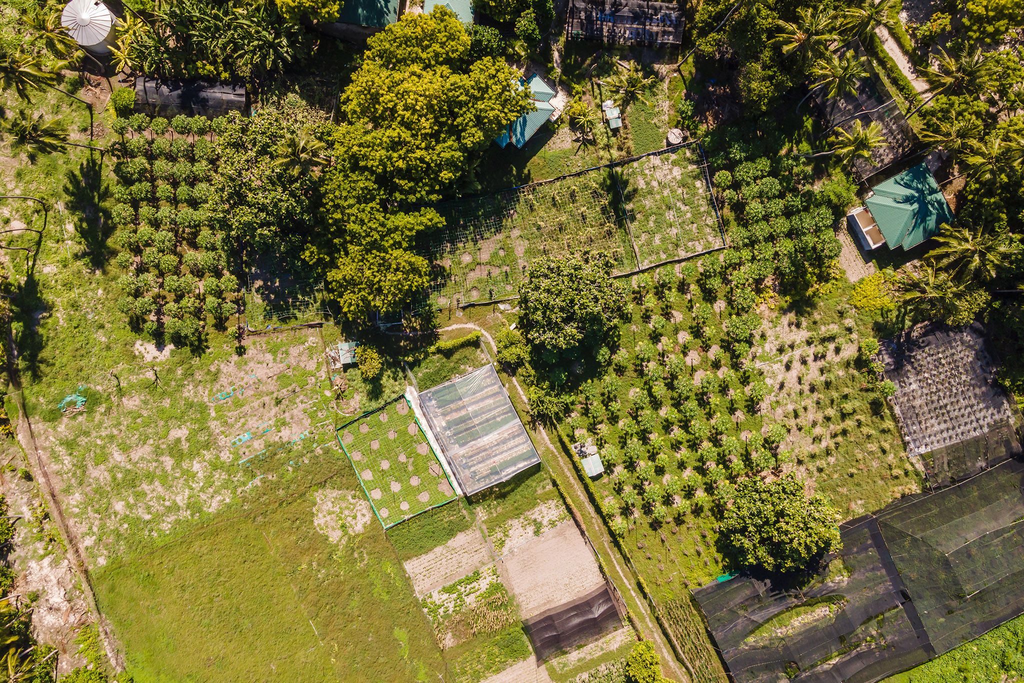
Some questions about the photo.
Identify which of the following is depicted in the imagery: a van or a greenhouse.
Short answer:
greenhouse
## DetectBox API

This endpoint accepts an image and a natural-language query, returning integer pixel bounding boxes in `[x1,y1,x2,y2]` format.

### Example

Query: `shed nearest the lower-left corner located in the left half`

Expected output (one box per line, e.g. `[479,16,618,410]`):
[339,342,359,365]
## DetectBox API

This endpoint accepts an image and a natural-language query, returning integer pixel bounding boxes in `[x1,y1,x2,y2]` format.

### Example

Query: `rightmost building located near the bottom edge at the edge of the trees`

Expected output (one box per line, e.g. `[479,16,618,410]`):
[862,439,1024,661]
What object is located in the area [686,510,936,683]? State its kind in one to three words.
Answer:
house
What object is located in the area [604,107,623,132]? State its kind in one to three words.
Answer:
shed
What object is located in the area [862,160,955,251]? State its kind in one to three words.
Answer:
house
